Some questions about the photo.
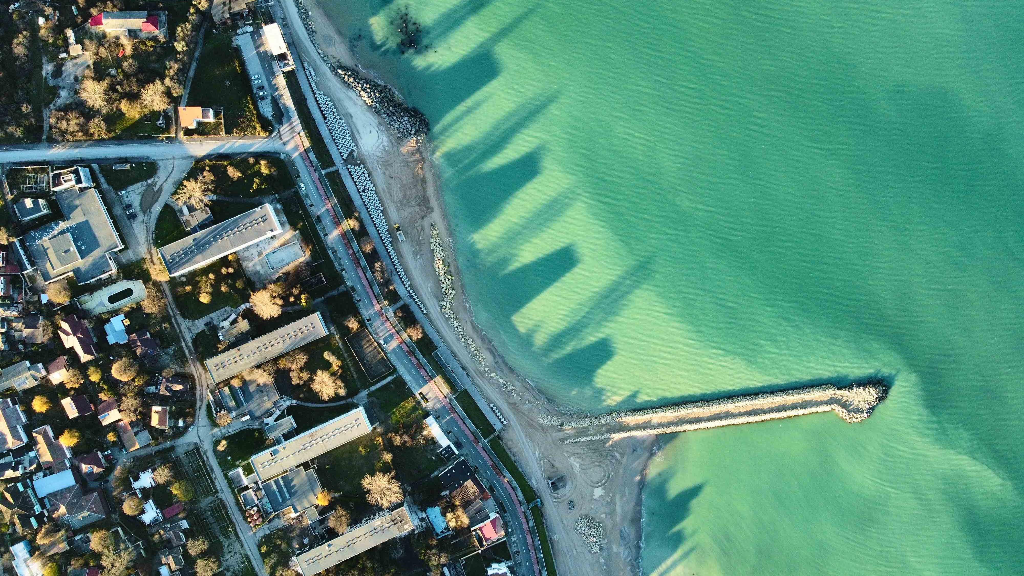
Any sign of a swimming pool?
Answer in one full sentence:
Yes, there's a swimming pool here.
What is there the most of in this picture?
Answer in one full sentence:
The scene is dominated by water.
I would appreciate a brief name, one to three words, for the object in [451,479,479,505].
house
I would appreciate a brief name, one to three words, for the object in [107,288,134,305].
swimming pool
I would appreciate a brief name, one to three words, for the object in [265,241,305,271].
swimming pool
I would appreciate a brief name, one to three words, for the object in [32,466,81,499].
barn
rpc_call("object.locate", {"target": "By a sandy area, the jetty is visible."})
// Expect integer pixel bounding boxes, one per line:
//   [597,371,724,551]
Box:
[557,384,886,439]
